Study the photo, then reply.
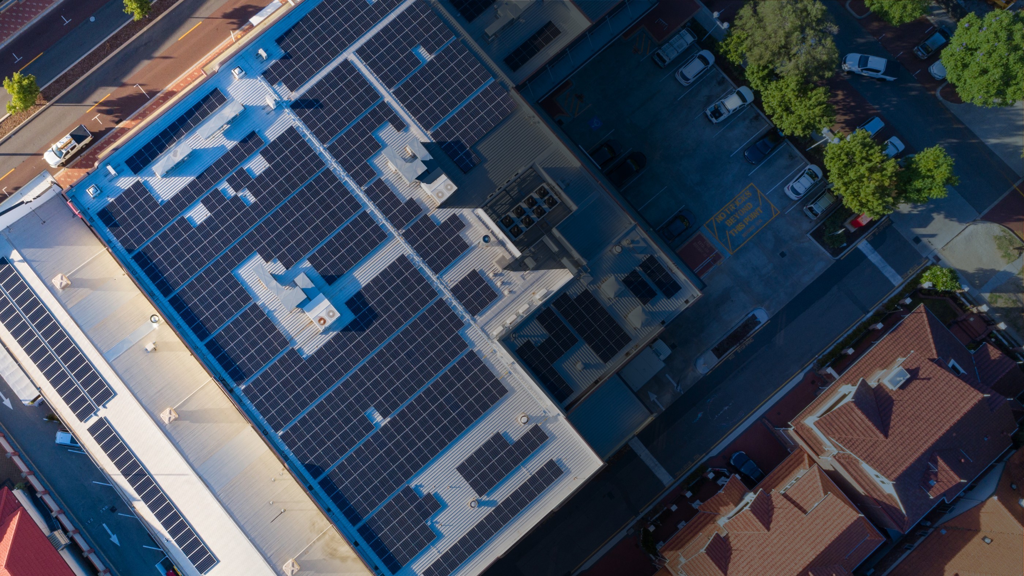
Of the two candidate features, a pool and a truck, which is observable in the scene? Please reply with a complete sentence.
It is a truck that can be seen here.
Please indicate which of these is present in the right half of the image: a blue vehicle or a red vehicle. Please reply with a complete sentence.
Visible in the right half of the image is a blue vehicle.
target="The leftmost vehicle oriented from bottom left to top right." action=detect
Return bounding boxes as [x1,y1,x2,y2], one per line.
[45,124,96,169]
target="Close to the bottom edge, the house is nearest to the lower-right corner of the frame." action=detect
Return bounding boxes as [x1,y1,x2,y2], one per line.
[893,446,1024,576]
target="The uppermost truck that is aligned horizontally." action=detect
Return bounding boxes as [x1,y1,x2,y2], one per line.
[841,52,898,83]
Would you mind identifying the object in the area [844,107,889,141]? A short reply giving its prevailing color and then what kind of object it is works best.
blue car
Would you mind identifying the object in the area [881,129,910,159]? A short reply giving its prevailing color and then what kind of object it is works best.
blue car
